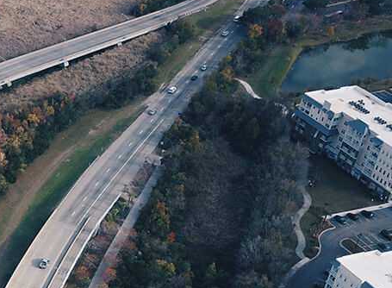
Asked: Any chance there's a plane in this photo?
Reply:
No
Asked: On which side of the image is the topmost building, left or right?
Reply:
right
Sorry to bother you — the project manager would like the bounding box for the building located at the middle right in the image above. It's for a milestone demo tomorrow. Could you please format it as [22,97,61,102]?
[285,81,392,199]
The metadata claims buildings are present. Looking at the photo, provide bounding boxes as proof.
[318,249,392,288]
[285,81,392,199]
